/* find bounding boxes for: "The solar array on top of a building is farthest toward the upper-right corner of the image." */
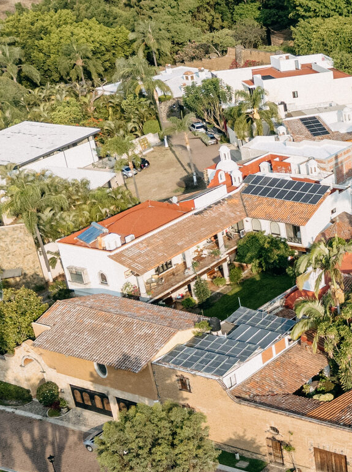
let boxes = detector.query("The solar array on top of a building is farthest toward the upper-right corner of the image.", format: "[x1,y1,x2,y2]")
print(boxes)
[299,117,329,136]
